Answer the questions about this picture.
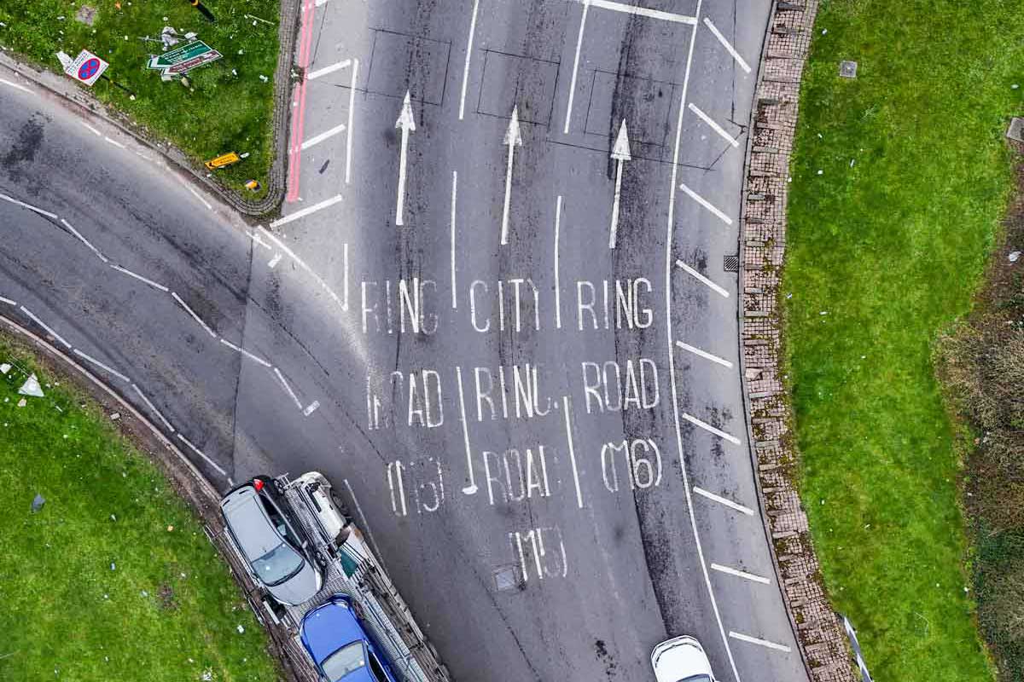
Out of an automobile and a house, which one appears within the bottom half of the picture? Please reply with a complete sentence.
The one visible within the bottom half of the picture is an automobile.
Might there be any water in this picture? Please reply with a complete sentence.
No, no water is visible.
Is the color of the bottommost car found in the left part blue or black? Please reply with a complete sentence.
The color of the bottommost car found in the left part is blue.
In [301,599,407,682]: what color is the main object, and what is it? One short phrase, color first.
blue car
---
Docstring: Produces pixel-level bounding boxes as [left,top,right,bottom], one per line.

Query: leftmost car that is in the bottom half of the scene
[219,476,329,605]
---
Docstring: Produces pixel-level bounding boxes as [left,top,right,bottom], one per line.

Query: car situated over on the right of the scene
[653,635,717,682]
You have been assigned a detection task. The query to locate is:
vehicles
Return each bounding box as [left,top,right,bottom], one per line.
[220,471,446,682]
[301,599,407,682]
[219,476,329,605]
[653,635,717,682]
